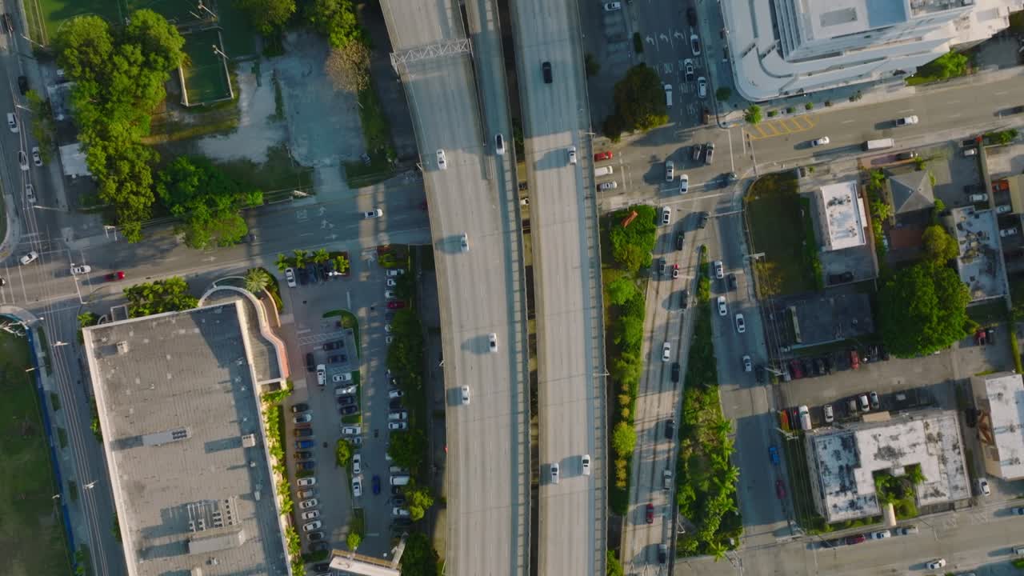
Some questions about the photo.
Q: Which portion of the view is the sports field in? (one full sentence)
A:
The sports field appears toward the top left of the photo.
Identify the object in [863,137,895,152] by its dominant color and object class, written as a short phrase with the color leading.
white vehicle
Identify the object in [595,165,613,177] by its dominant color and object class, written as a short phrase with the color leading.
white vehicle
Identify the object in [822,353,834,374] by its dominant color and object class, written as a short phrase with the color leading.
black vehicle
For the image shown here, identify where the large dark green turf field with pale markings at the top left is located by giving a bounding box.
[46,0,218,50]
